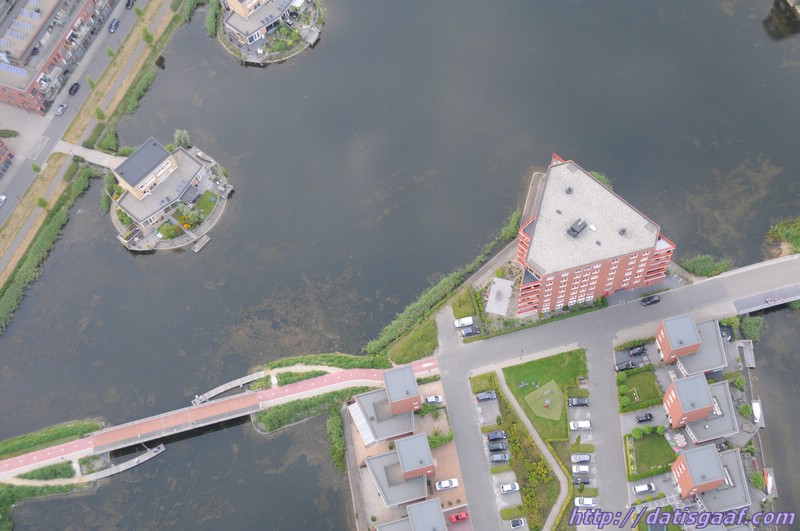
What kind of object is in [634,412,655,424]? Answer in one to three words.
vehicle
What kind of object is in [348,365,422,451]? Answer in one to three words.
house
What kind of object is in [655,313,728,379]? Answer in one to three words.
house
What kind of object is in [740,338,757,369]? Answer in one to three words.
pier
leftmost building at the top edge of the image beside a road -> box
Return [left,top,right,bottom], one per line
[0,0,122,117]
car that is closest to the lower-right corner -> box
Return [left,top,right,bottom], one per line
[632,483,657,495]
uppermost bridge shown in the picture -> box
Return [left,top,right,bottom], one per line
[720,251,800,315]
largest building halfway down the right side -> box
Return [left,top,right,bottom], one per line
[516,153,676,314]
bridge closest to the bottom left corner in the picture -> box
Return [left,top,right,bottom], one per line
[92,391,263,456]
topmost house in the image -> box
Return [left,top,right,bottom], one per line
[224,0,295,46]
